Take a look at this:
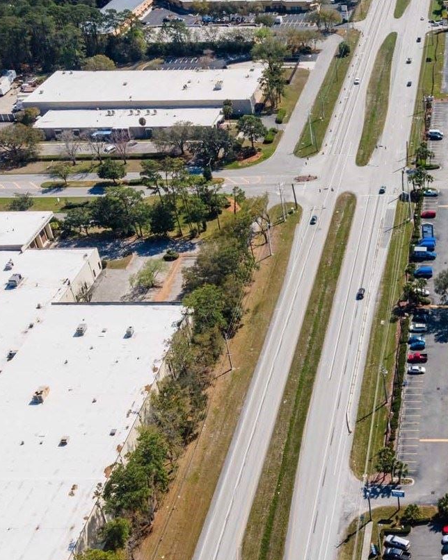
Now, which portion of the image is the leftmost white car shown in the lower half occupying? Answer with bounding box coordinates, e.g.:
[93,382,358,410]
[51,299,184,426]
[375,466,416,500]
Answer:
[385,535,410,550]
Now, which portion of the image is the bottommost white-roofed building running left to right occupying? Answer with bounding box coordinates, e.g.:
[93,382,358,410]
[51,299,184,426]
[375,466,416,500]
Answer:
[23,68,264,143]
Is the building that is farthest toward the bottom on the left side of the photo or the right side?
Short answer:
left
